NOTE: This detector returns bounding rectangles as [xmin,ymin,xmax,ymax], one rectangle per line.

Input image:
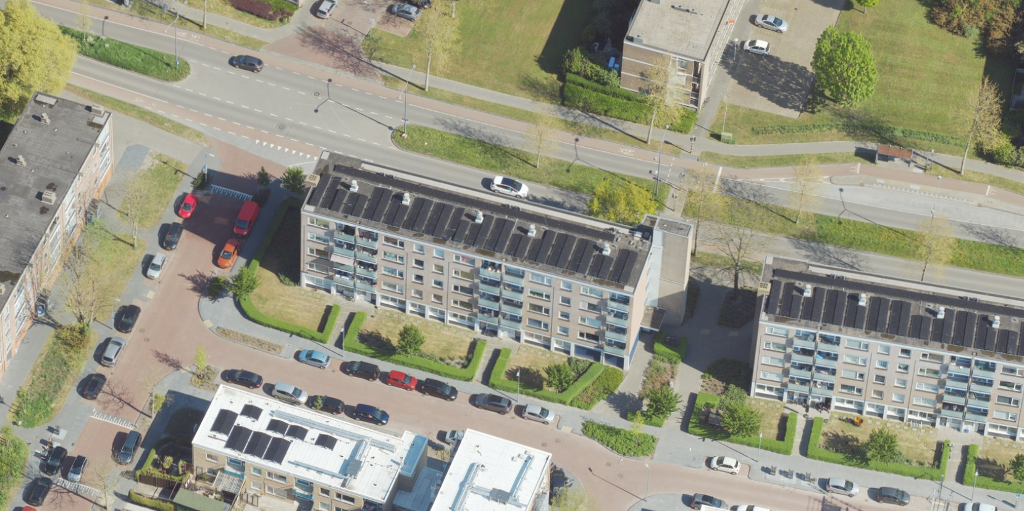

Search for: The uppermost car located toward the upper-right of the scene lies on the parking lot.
[752,13,791,35]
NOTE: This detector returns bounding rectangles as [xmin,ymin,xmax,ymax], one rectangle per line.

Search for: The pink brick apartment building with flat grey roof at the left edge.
[0,90,115,376]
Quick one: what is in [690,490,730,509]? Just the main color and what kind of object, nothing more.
gray car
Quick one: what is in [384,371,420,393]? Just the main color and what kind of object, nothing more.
red car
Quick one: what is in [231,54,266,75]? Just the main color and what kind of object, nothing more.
gray car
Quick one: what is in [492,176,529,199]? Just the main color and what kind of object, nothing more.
white car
